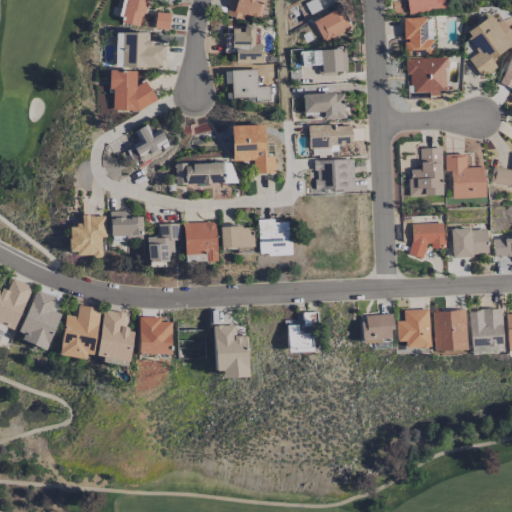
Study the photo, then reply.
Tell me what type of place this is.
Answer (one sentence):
This image shows a residential area.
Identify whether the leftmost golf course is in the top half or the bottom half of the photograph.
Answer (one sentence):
It is in the top half that the leftmost golf course appears.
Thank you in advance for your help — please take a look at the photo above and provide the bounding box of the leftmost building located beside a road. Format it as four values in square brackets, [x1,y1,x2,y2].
[0,280,36,338]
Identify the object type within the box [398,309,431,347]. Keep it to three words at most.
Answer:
house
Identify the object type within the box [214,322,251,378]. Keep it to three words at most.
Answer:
house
